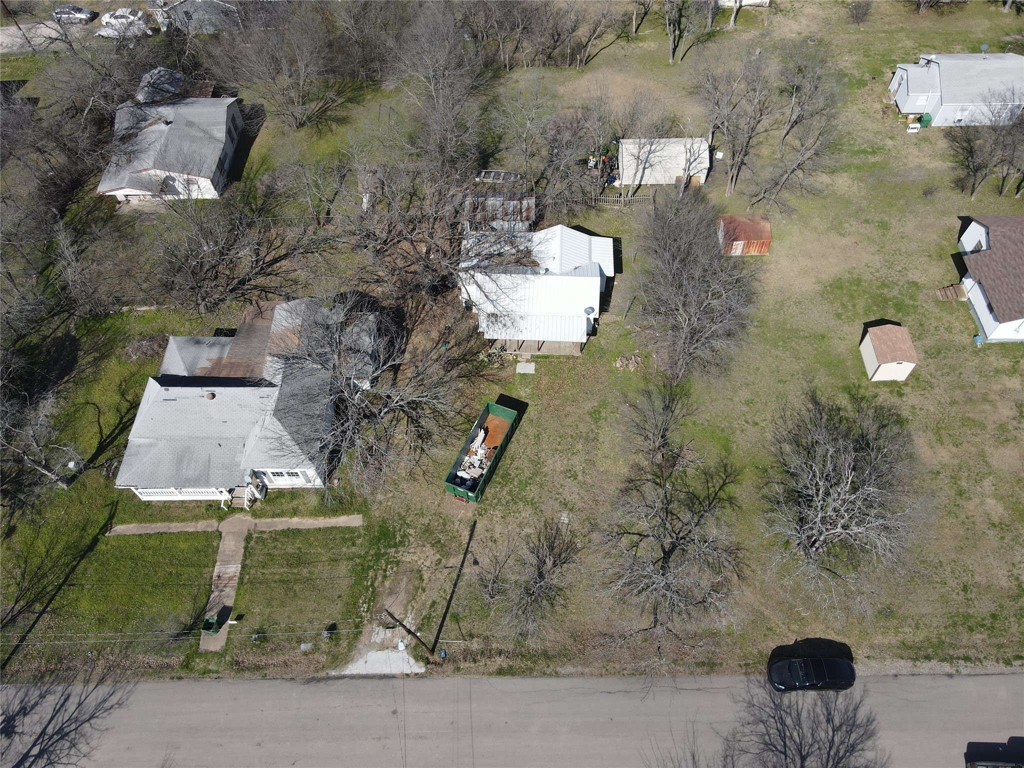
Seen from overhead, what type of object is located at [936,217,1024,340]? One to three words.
house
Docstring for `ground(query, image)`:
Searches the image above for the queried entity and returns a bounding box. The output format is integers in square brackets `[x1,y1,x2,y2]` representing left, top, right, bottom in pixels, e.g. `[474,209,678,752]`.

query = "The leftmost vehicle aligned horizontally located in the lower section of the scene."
[764,656,856,700]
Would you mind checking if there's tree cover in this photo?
Yes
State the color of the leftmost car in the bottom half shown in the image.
black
